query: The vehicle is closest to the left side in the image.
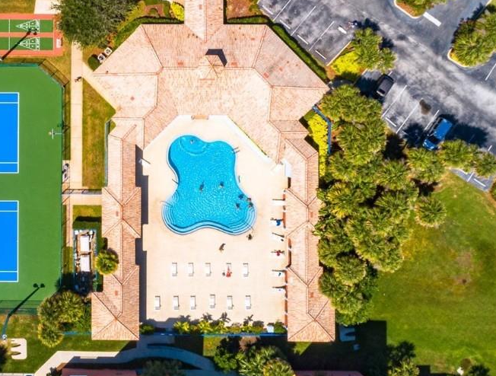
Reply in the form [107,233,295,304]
[368,70,398,105]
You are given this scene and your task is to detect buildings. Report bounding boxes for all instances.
[90,0,336,343]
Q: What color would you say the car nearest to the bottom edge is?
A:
blue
